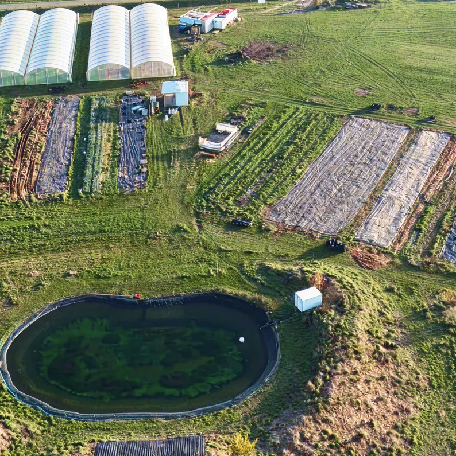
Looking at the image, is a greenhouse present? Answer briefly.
Yes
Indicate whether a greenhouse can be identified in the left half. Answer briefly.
Yes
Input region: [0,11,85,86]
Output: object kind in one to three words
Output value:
greenhouse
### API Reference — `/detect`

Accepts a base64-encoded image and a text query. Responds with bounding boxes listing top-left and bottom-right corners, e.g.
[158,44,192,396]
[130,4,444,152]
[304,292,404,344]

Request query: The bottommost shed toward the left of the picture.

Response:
[163,79,189,105]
